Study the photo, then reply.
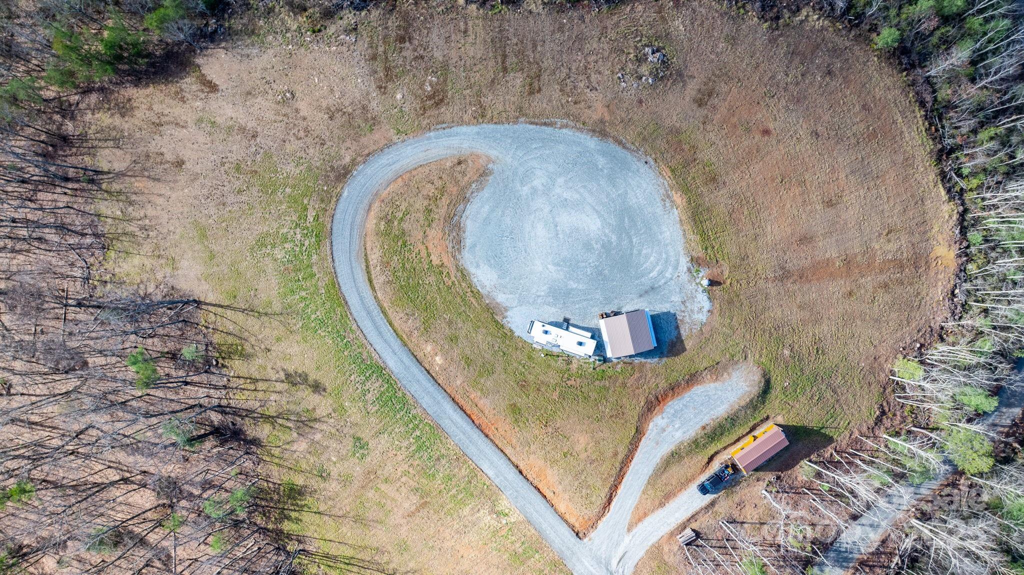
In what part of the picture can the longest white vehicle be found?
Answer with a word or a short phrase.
center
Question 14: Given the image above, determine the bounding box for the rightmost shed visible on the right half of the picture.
[732,425,792,475]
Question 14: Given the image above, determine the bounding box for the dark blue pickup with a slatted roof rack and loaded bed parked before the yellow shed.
[696,465,736,495]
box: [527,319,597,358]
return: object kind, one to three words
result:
vehicle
